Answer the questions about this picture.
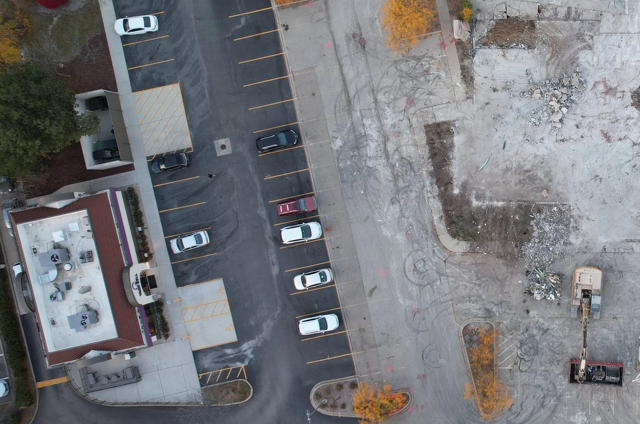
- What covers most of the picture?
paved ground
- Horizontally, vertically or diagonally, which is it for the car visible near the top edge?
horizontally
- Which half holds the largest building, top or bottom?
bottom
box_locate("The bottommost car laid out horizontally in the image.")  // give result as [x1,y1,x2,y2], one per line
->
[295,314,338,336]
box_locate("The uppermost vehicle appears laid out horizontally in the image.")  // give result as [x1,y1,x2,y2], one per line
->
[114,14,157,35]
